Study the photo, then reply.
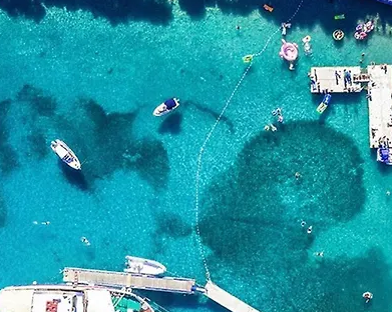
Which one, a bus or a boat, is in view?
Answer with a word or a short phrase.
boat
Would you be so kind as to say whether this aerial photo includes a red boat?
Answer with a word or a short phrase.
No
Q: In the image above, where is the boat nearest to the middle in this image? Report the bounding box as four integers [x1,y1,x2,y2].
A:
[154,96,182,116]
